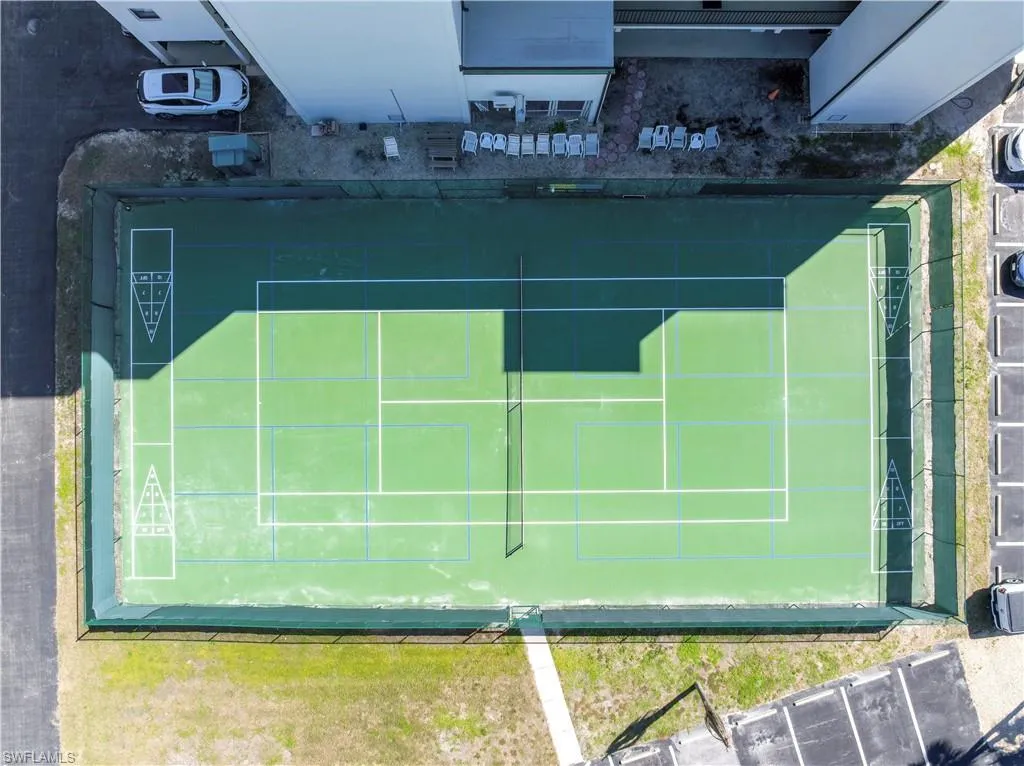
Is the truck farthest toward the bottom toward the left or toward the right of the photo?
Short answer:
right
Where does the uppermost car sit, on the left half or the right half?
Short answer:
left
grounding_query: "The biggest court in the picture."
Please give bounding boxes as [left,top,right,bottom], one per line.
[119,197,925,607]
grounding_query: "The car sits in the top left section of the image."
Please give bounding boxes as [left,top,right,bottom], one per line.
[136,64,252,119]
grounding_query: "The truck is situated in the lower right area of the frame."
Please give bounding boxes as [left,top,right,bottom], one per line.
[989,577,1024,630]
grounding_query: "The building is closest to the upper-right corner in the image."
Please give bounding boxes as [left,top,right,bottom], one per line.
[810,0,1024,123]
